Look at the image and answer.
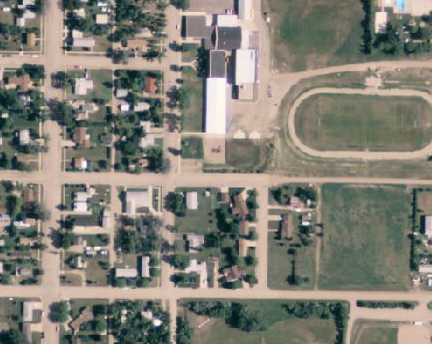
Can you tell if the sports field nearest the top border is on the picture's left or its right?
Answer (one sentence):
The sports field nearest the top border is on the right side of the image.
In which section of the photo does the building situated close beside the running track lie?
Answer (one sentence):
The building situated close beside the running track appears toward the top of the photo.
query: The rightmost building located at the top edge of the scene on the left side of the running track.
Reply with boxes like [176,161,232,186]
[186,0,254,133]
